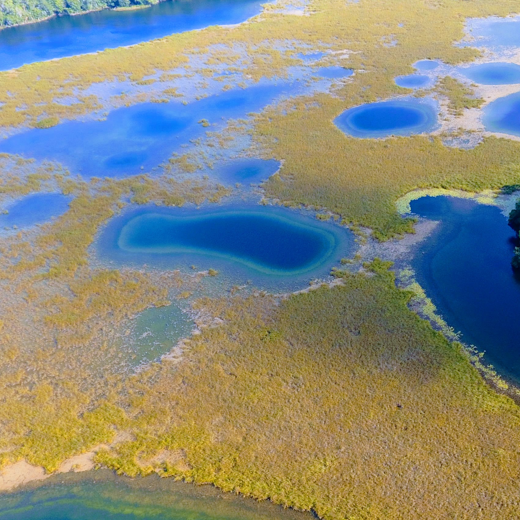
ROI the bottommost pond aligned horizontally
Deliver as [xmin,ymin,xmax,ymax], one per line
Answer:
[122,216,332,270]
